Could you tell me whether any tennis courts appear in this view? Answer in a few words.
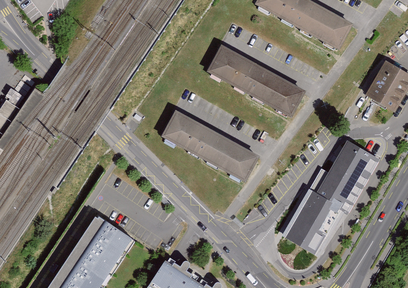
No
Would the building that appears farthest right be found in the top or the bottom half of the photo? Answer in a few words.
top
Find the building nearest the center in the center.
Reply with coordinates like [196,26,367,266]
[162,110,257,184]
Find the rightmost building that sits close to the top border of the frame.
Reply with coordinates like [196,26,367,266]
[257,0,352,52]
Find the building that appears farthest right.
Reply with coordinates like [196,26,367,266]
[367,61,408,112]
